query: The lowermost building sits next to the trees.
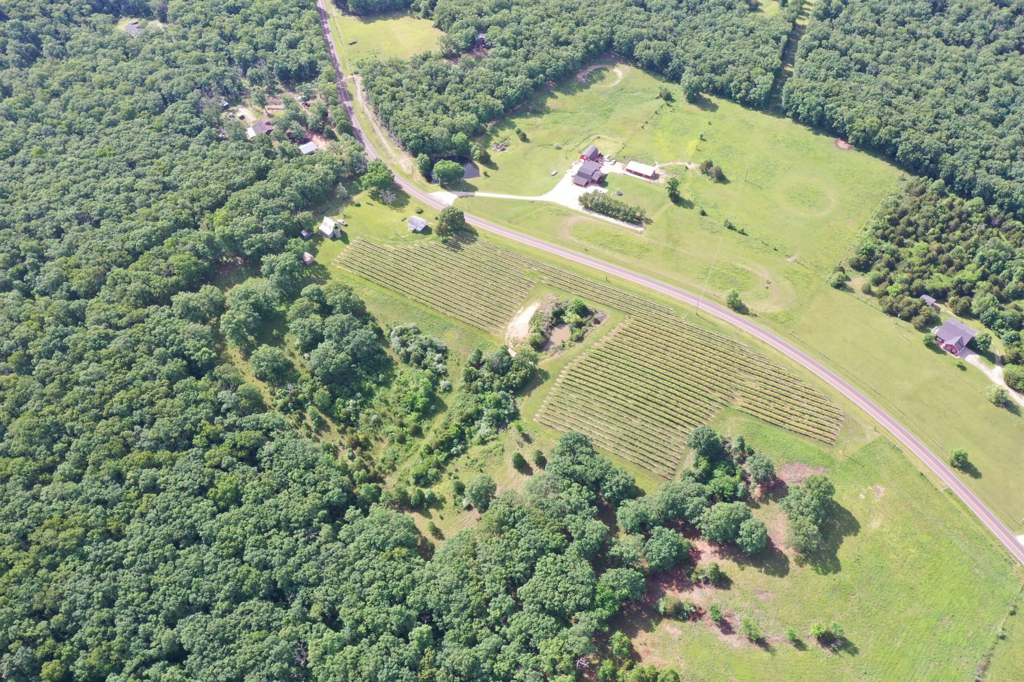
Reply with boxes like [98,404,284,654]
[932,318,978,355]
